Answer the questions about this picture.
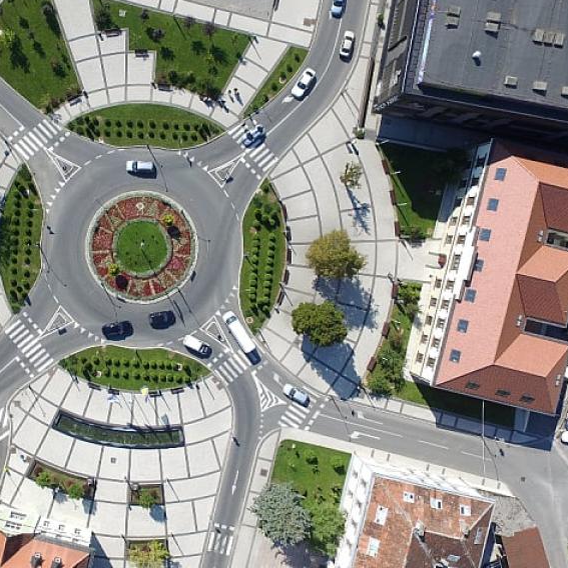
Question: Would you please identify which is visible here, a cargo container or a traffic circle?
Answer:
traffic circle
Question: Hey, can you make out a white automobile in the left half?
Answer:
Yes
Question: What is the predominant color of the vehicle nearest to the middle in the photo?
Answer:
white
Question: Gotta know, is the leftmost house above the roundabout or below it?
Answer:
below it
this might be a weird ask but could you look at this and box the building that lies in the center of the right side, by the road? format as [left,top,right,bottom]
[404,137,568,417]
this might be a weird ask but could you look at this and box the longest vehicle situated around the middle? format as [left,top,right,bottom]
[219,308,261,358]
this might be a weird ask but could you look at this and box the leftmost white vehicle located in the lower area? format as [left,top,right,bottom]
[181,334,210,357]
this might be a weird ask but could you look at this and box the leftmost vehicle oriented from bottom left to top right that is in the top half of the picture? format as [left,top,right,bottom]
[240,124,267,147]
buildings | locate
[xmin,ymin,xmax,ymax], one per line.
[374,0,568,141]
[404,137,568,417]
[321,455,495,568]
[496,524,550,568]
[0,508,92,568]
